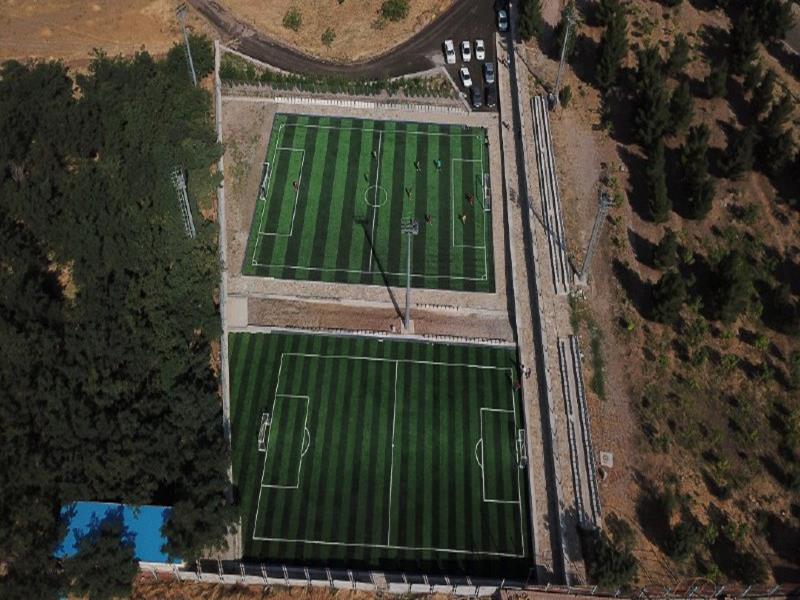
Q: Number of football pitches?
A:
two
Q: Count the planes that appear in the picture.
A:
0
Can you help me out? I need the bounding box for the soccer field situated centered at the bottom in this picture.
[228,334,534,582]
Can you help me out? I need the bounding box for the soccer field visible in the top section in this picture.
[242,113,495,292]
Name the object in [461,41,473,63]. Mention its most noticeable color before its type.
white vehicle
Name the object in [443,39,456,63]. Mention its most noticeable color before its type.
white vehicle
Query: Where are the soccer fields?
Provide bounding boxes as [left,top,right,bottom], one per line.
[242,113,495,292]
[228,334,534,582]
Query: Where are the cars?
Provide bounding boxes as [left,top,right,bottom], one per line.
[443,39,456,63]
[461,41,473,63]
[470,86,483,111]
[483,62,495,85]
[497,8,509,28]
[459,66,473,90]
[474,39,487,61]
